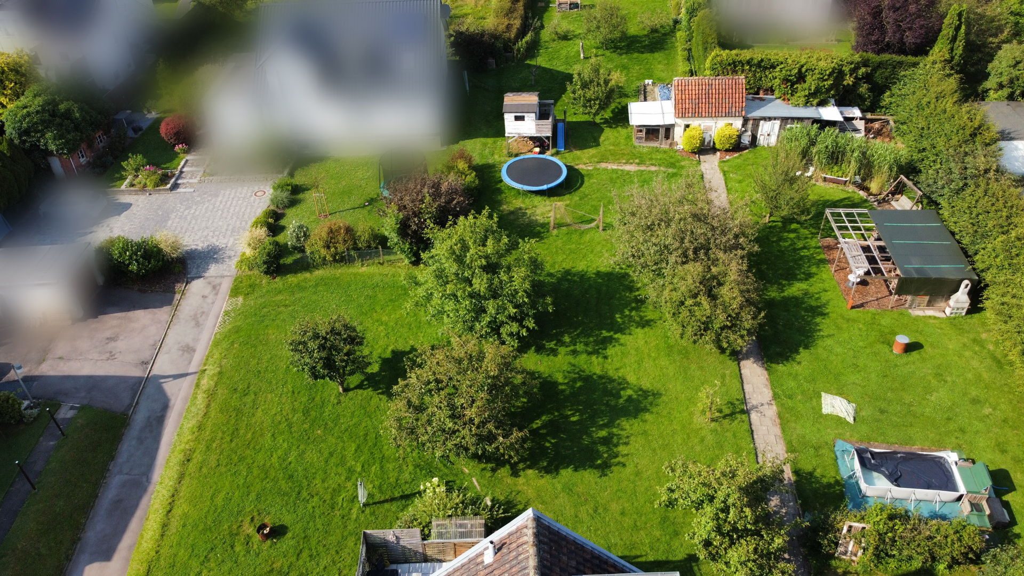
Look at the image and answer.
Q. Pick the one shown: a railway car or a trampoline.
trampoline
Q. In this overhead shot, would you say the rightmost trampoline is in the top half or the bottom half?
top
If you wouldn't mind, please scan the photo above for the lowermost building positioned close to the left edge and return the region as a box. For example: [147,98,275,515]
[0,243,117,326]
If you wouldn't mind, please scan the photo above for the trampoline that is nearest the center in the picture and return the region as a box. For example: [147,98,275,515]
[502,155,567,202]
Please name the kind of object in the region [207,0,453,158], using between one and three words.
house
